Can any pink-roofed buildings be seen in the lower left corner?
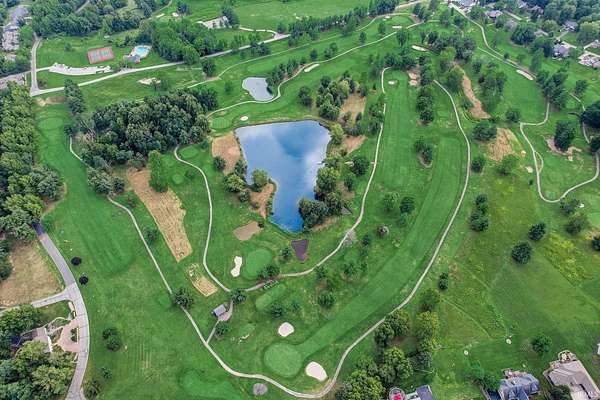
No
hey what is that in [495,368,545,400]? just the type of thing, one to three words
house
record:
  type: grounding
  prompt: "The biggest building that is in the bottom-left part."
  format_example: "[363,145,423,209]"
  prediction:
[11,326,39,350]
